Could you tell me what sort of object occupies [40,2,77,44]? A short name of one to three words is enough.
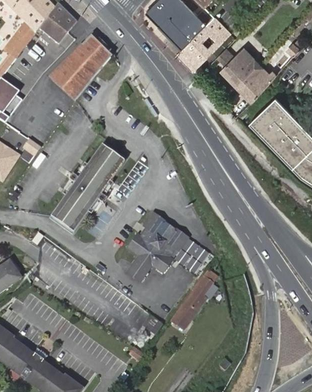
house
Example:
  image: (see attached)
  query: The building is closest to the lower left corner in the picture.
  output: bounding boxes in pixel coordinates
[0,324,84,392]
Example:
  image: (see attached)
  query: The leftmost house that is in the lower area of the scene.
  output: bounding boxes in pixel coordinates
[0,253,24,292]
